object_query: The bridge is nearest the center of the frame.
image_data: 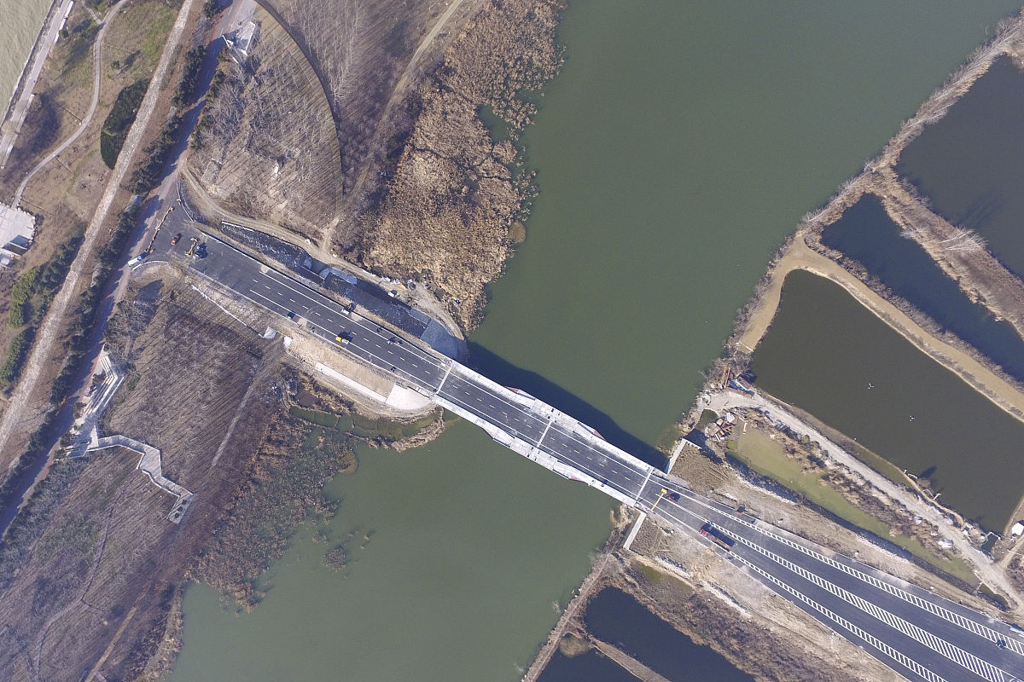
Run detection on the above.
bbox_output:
[428,358,655,508]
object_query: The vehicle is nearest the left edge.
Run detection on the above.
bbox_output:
[123,254,141,266]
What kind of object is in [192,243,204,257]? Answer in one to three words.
vehicle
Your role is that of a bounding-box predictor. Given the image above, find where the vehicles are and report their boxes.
[701,528,736,550]
[734,510,744,517]
[192,243,204,257]
[996,640,1008,649]
[170,233,180,245]
[333,335,348,345]
[395,340,403,347]
[667,492,679,501]
[284,312,295,320]
[340,307,350,315]
[123,254,141,266]
[385,338,395,346]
